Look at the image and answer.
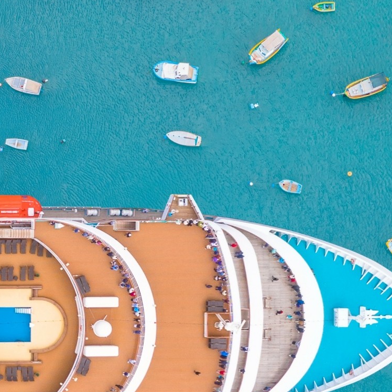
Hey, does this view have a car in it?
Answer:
No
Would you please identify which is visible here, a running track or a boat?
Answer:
boat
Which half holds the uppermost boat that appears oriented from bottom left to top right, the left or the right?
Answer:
right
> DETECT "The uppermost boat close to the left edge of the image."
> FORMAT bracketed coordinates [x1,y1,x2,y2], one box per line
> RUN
[2,77,43,95]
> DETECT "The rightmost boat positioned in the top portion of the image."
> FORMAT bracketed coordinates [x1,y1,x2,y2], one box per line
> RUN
[339,71,392,99]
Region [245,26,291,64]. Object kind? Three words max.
boat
